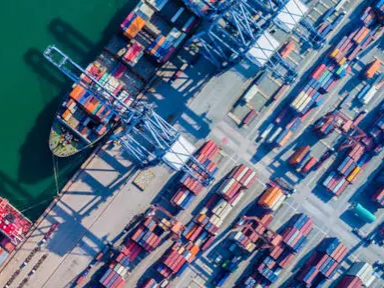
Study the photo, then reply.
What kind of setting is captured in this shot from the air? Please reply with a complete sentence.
The area seen from above is a port.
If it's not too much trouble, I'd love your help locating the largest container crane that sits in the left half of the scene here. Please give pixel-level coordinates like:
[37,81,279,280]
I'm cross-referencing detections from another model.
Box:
[41,40,217,185]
